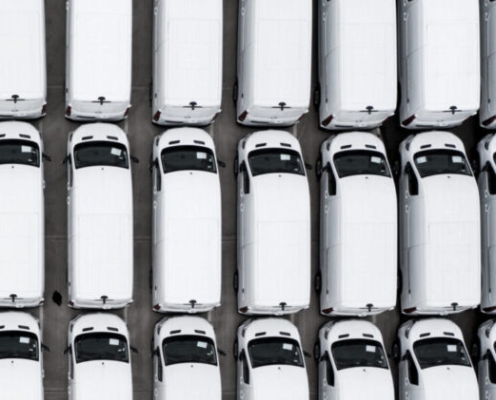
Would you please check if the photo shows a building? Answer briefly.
No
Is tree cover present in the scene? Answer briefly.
No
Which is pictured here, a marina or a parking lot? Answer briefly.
parking lot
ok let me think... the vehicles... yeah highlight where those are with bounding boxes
[149,0,221,128]
[314,131,398,318]
[0,121,51,309]
[313,0,395,131]
[62,312,139,400]
[150,315,226,400]
[469,133,496,316]
[65,0,132,124]
[392,318,477,400]
[148,127,226,314]
[61,123,139,310]
[471,0,496,130]
[233,316,312,400]
[233,130,313,316]
[233,0,310,128]
[393,0,478,131]
[469,318,496,400]
[0,311,50,400]
[392,130,479,318]
[0,0,47,121]
[313,319,395,400]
